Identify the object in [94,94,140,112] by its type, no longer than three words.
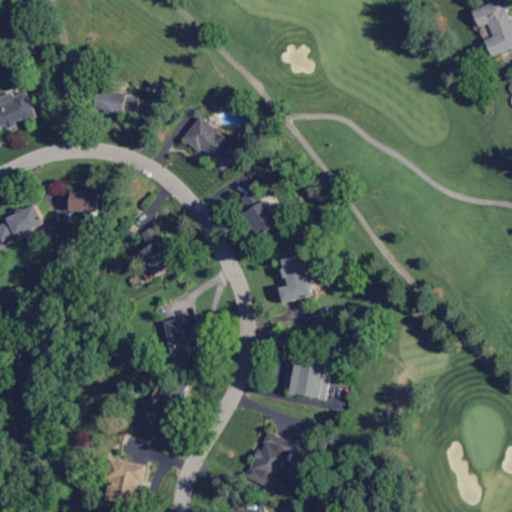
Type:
house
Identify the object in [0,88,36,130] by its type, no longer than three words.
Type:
house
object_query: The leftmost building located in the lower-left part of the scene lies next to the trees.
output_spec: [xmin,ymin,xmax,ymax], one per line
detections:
[106,456,148,498]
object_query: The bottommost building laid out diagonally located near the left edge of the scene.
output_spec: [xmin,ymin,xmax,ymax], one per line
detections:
[0,204,42,244]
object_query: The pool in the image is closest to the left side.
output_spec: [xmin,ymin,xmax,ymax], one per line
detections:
[220,112,240,125]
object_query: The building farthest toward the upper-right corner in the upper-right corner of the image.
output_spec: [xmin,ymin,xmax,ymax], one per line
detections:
[472,2,512,57]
